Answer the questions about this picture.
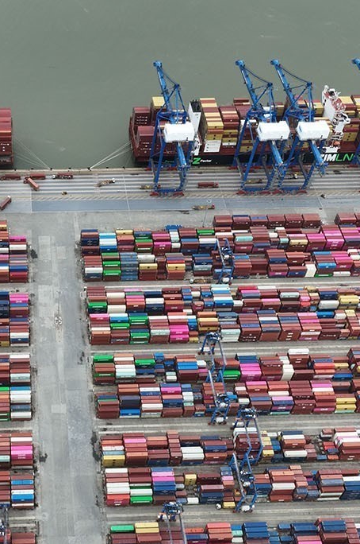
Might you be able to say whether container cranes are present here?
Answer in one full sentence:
Yes, a container crane can be made out from above.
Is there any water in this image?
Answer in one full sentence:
Yes, there's water in this view.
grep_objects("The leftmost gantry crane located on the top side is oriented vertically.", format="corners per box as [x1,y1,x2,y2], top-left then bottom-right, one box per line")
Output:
[147,63,197,195]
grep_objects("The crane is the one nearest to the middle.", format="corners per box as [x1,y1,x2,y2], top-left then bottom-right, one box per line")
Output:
[214,238,238,284]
